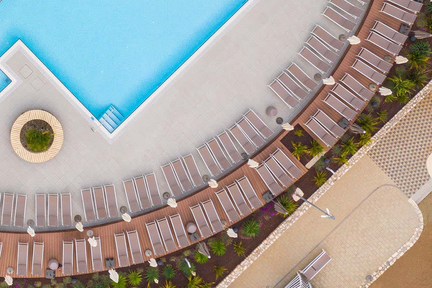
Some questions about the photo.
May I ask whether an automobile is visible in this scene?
No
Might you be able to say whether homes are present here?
No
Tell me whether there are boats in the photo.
No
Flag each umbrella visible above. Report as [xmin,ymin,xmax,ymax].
[162,190,177,206]
[201,173,218,188]
[313,73,335,84]
[368,83,394,94]
[104,257,120,281]
[338,117,369,132]
[74,213,85,230]
[262,191,287,211]
[221,218,237,235]
[241,151,259,165]
[400,24,432,35]
[25,219,35,236]
[143,248,158,267]
[5,266,15,285]
[383,53,410,64]
[275,116,295,129]
[337,33,362,43]
[86,229,98,246]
